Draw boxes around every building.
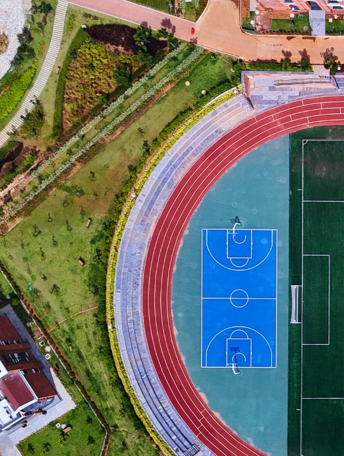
[251,0,344,16]
[0,304,60,437]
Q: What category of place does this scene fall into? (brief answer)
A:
sports ground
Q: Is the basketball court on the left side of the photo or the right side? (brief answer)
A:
right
